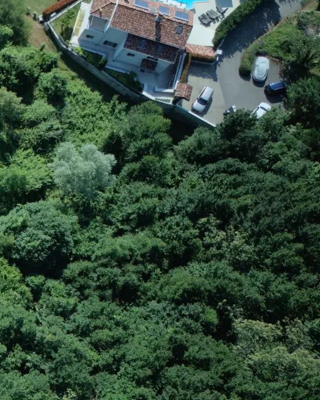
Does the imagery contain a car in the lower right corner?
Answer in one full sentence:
No, looking in the lower right corner, there is no car.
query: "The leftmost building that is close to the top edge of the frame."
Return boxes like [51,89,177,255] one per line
[78,0,194,80]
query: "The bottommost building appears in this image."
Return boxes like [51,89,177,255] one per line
[168,86,192,109]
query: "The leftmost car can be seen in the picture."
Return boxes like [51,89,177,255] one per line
[191,84,217,114]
